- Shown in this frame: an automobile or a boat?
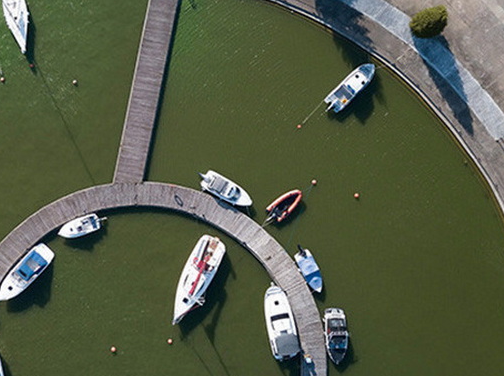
boat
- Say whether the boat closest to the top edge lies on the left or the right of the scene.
left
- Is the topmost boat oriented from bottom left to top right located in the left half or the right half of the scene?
right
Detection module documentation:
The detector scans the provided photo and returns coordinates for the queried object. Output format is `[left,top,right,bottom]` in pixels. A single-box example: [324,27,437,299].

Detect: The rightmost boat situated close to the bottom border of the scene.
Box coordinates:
[322,305,347,365]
